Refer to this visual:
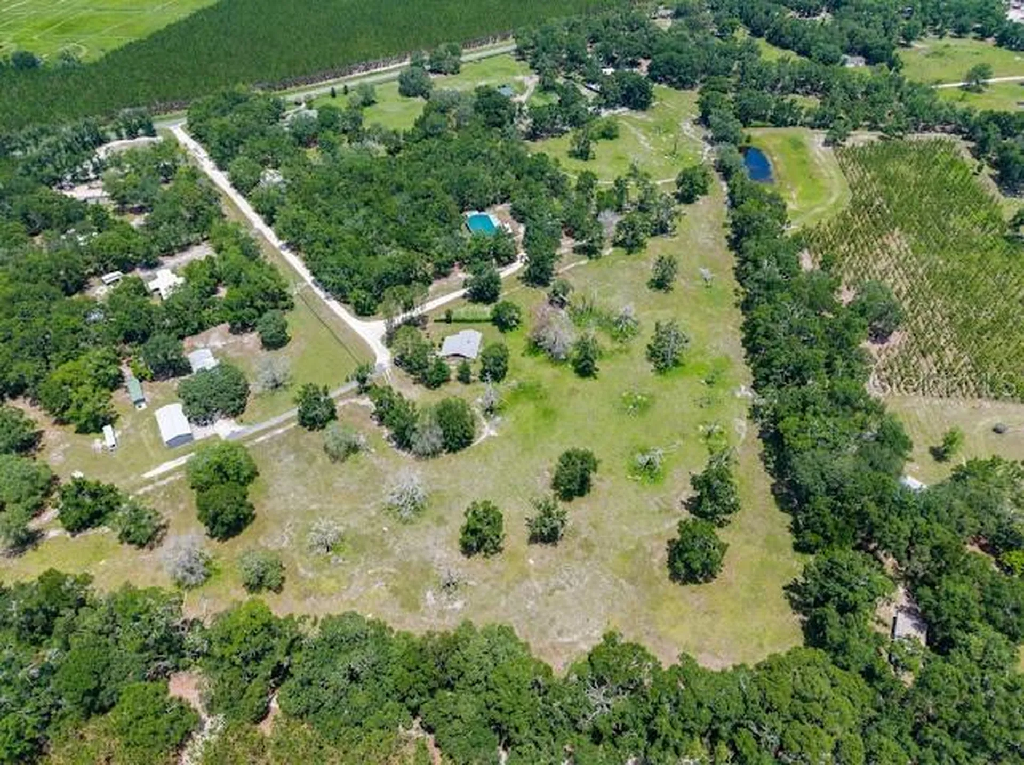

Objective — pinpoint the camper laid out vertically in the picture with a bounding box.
[105,425,118,456]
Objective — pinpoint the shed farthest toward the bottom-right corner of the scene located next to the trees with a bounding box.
[888,614,927,652]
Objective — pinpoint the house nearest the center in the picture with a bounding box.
[443,331,483,367]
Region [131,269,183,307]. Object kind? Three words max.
house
